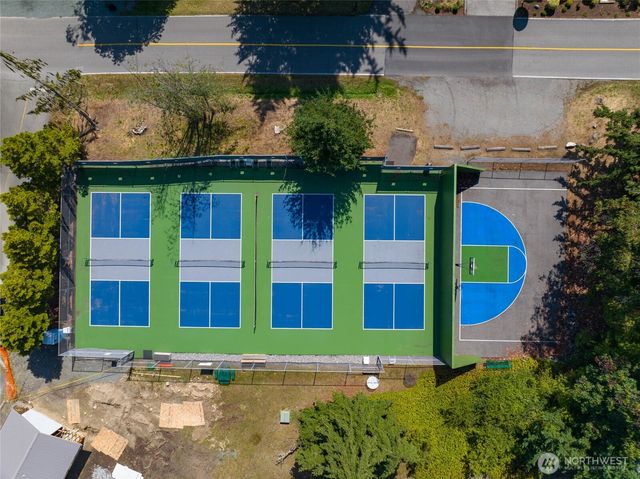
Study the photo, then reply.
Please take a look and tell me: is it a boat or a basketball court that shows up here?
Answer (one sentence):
There is a basketball court in the scene.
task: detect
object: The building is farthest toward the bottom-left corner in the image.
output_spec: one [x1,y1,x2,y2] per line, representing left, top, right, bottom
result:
[0,408,82,479]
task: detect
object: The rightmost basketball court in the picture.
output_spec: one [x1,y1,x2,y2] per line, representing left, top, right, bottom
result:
[456,171,569,358]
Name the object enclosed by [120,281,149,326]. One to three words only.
sports court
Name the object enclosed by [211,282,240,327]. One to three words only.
sports court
